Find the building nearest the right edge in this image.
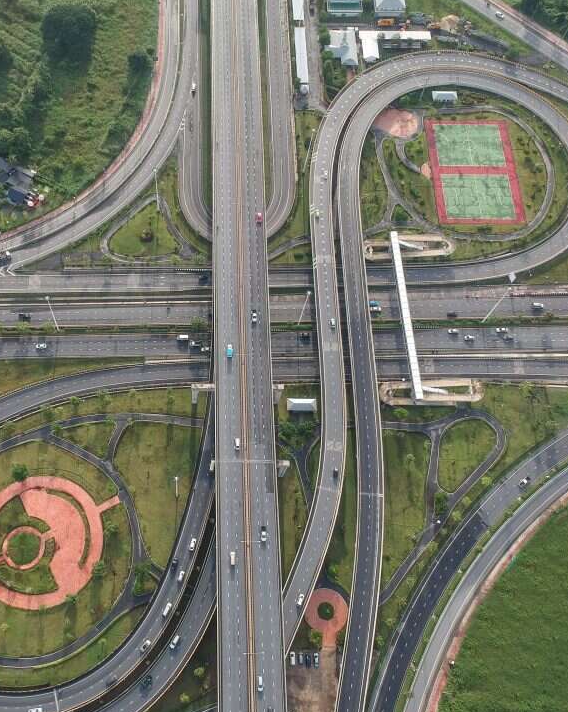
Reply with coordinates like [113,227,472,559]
[431,91,457,105]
